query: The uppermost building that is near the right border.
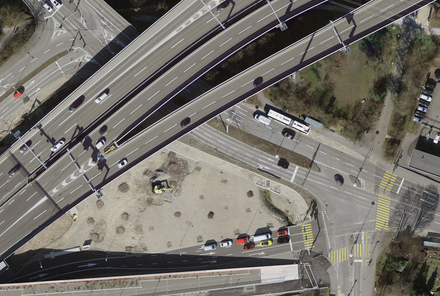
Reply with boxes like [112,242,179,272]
[410,148,440,176]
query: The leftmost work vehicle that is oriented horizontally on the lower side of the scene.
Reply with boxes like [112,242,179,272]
[151,182,175,194]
